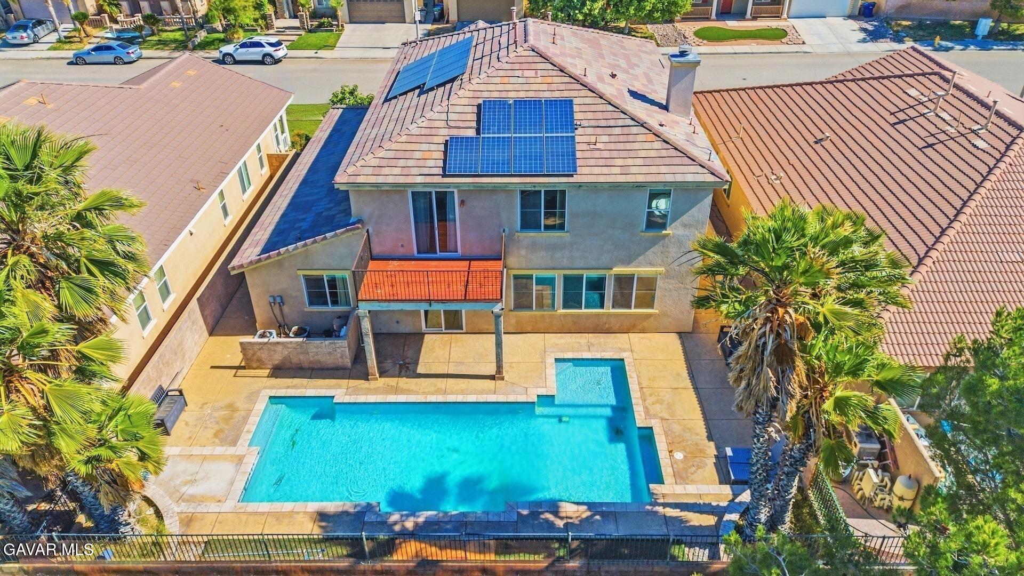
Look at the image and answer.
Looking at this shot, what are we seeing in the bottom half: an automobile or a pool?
pool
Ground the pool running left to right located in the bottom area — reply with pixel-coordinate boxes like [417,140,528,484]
[223,352,679,522]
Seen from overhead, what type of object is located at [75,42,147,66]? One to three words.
car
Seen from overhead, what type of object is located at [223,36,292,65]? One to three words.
car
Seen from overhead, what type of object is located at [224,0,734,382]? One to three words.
house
